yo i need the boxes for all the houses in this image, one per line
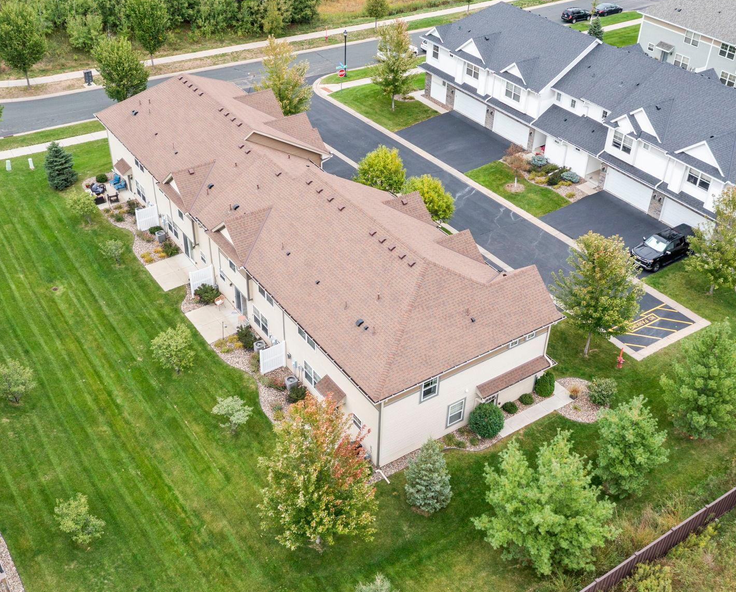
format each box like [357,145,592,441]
[414,1,736,259]
[97,74,572,483]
